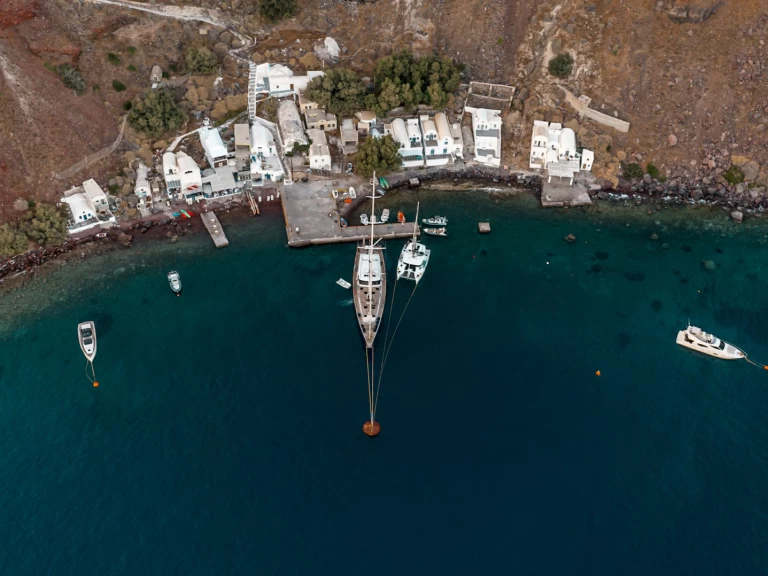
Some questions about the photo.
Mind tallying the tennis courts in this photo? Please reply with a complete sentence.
Not a single tennis court can be seen.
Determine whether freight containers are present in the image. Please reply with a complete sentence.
No, the frame has no freight container in it.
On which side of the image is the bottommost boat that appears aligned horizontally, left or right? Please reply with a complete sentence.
It is on the right.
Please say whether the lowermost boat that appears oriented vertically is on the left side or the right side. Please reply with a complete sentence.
You can find the lowermost boat that appears oriented vertically on the left side of the picture.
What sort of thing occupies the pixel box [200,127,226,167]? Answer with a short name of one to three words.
house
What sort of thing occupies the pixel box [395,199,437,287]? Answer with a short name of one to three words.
boat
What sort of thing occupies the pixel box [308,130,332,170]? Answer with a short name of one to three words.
house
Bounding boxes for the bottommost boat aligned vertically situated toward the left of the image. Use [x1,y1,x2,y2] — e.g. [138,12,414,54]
[78,318,98,362]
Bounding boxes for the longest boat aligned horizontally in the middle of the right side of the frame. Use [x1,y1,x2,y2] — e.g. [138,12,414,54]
[674,325,751,358]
